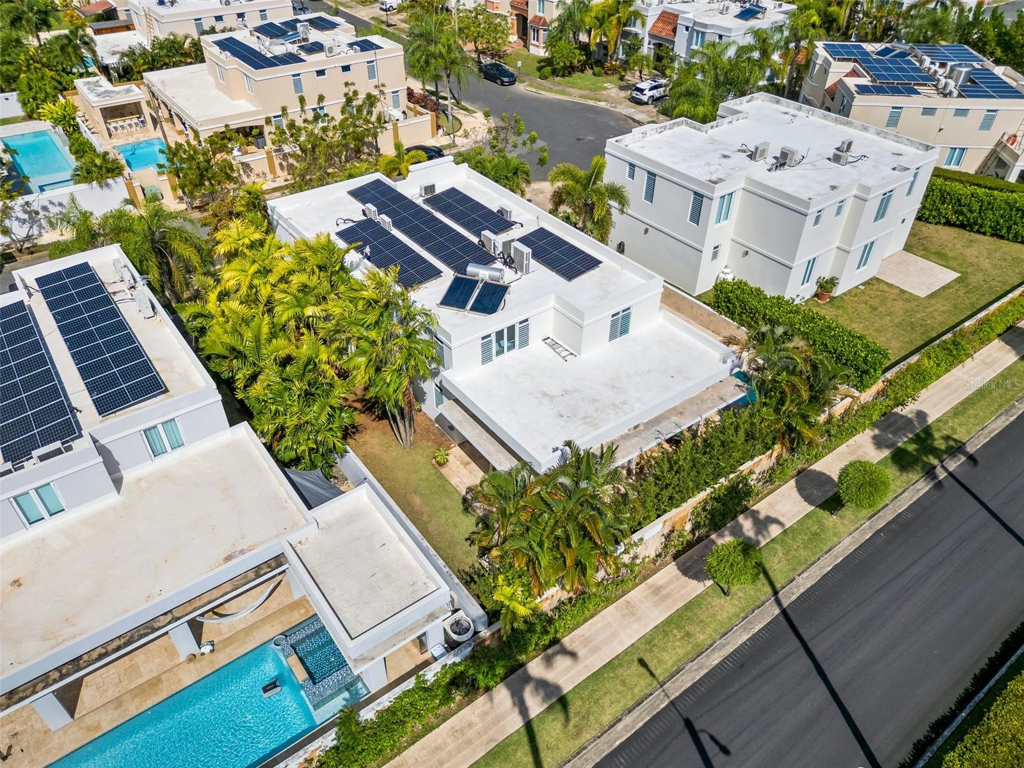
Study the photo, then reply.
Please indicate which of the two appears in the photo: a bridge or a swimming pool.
swimming pool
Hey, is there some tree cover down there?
Yes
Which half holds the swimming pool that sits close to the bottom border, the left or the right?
left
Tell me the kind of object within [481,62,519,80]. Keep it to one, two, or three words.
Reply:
car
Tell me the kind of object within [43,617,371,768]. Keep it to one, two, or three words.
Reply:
swimming pool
